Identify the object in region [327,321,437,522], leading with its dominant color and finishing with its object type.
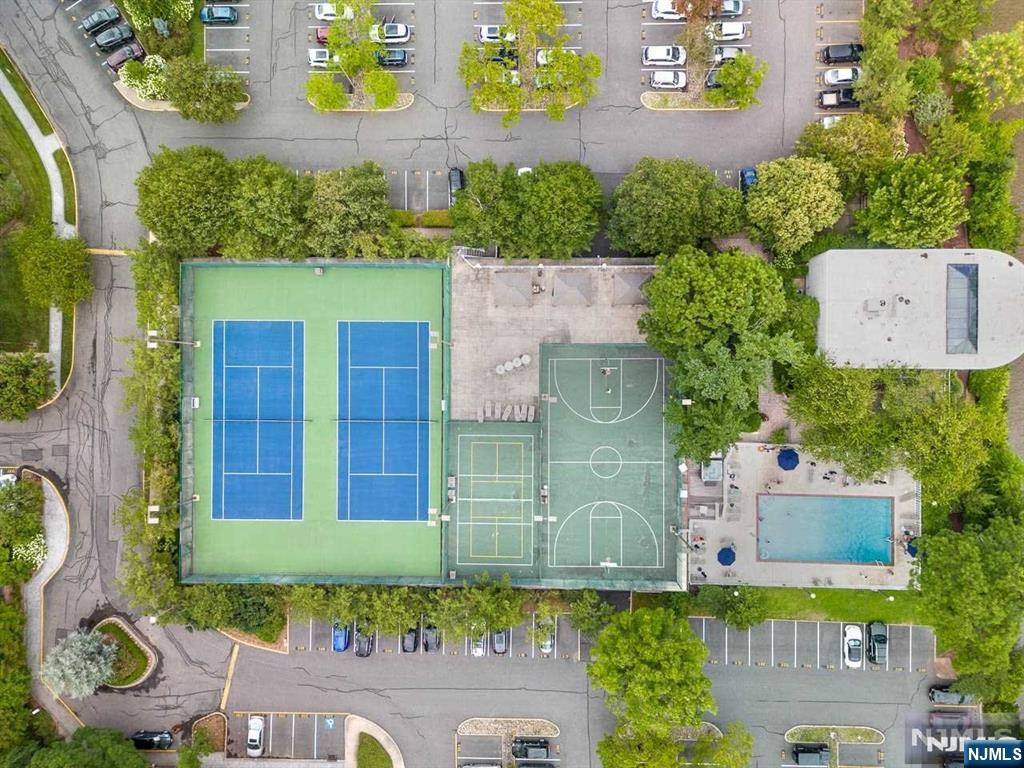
blue tennis court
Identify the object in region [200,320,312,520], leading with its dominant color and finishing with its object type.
blue tennis court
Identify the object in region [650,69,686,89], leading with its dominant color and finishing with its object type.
white car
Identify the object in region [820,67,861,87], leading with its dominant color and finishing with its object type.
white car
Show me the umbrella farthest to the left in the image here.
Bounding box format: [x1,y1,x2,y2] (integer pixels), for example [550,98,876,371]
[716,546,734,565]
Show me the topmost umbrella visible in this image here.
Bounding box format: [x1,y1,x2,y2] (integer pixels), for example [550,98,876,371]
[775,448,797,469]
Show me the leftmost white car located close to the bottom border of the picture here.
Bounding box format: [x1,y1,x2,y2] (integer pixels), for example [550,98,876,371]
[246,713,266,754]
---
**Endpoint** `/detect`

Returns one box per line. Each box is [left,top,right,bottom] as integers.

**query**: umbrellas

[716,546,734,565]
[775,448,797,469]
[898,540,920,558]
